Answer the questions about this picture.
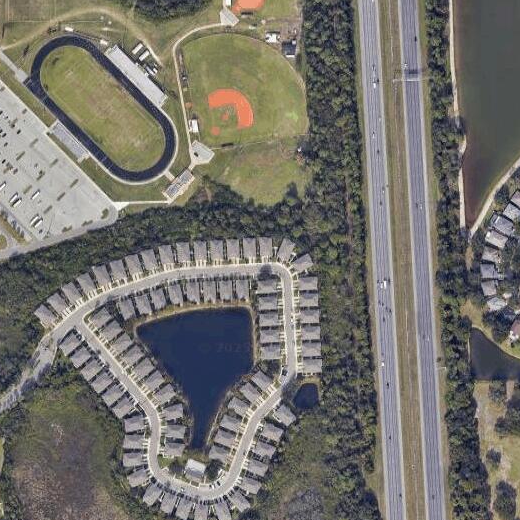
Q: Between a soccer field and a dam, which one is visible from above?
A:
soccer field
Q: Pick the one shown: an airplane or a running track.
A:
running track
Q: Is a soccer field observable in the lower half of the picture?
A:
No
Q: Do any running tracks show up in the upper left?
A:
Yes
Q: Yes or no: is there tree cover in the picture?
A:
Yes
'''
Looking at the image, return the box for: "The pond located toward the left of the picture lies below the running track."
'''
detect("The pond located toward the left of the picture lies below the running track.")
[136,306,253,451]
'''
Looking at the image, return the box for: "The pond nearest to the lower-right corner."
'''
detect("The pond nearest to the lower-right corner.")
[470,326,520,380]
